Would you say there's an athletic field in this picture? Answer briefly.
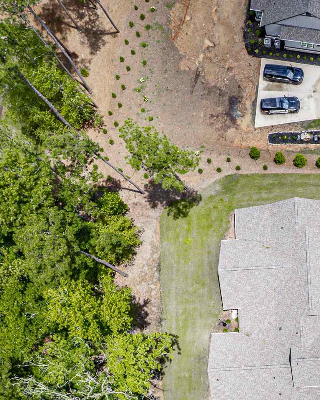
No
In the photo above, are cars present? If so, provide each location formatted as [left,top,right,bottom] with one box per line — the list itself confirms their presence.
[262,96,298,115]
[269,59,307,82]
